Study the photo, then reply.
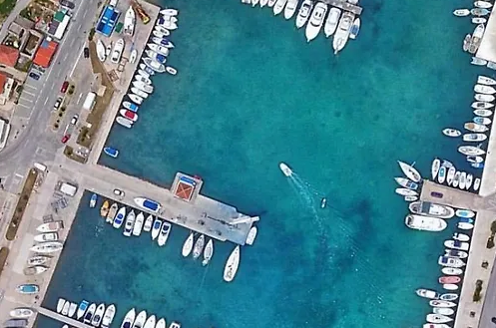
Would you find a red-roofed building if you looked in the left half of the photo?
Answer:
Yes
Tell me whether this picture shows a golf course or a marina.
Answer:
marina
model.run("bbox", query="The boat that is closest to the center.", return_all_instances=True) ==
[280,163,294,178]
